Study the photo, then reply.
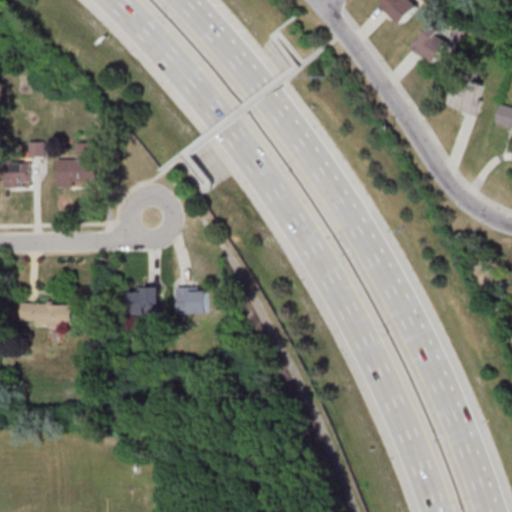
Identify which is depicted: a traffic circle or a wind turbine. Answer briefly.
traffic circle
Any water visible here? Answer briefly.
No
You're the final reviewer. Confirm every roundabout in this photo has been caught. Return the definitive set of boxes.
[120,185,184,248]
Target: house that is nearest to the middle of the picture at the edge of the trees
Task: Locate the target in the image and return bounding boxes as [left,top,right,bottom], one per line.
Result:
[174,286,212,314]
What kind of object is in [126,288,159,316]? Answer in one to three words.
house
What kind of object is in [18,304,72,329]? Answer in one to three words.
house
